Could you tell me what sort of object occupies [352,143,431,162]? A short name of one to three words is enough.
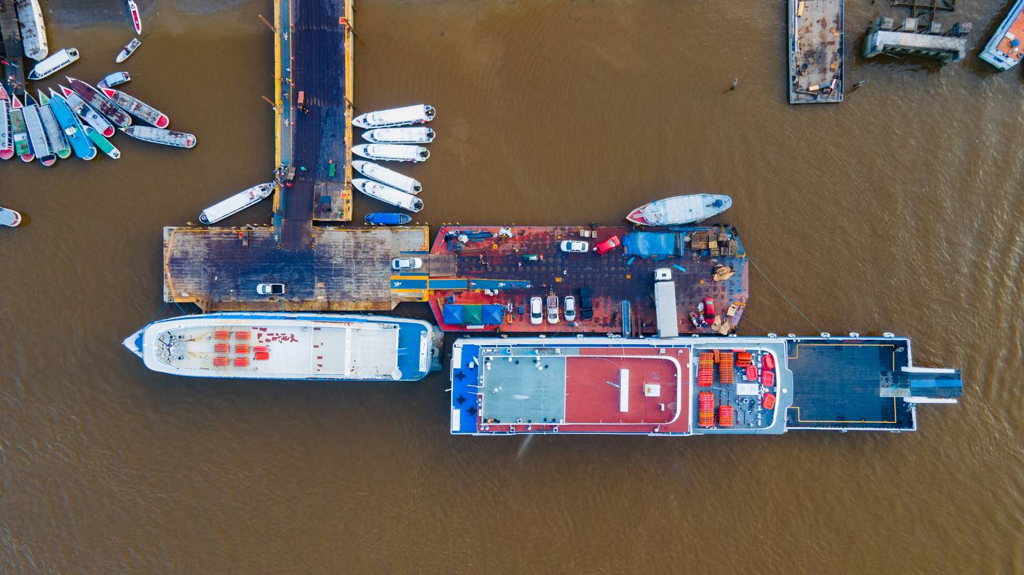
boat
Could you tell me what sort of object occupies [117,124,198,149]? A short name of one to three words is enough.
boat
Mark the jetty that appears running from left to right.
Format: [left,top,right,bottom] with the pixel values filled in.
[164,226,429,310]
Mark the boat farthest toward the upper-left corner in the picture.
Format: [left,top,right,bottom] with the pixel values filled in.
[19,0,51,61]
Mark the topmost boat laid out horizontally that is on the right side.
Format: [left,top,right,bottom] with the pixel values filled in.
[627,192,731,224]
